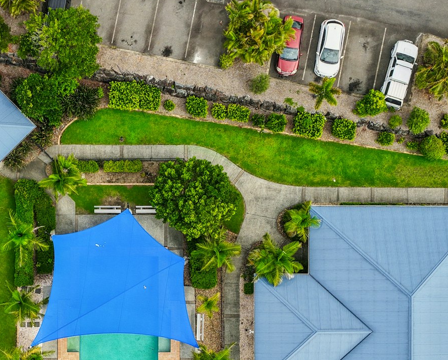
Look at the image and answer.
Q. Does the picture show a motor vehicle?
Yes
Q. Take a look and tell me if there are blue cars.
No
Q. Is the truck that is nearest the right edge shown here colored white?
Yes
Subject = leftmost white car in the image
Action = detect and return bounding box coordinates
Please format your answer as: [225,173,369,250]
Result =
[313,17,345,81]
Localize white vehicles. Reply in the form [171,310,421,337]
[313,17,345,81]
[379,36,419,115]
